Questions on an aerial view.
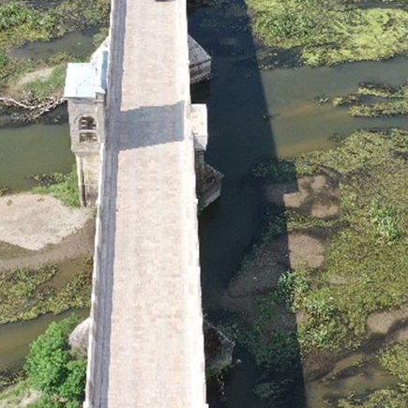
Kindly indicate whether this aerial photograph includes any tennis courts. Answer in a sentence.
No, I find no tennis court anywhere in the image.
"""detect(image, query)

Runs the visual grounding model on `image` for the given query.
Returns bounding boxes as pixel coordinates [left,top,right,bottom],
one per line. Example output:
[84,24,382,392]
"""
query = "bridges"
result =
[78,0,236,408]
